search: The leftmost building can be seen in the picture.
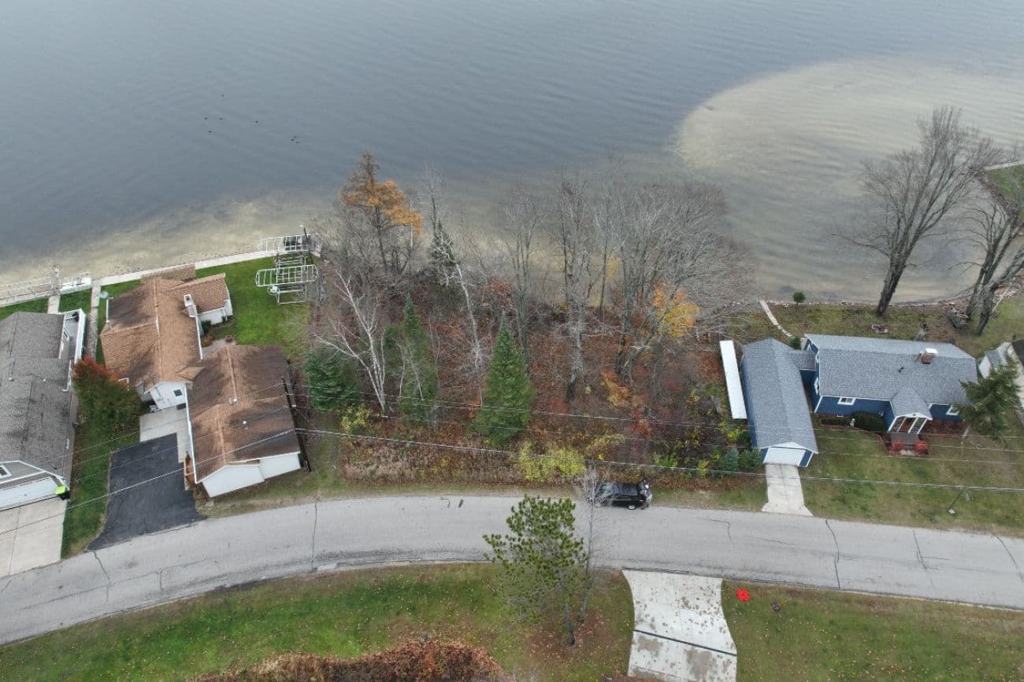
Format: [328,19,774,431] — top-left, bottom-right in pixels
[0,308,88,512]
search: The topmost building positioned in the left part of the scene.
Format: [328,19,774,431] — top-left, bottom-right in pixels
[96,265,233,409]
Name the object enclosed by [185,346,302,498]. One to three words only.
building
